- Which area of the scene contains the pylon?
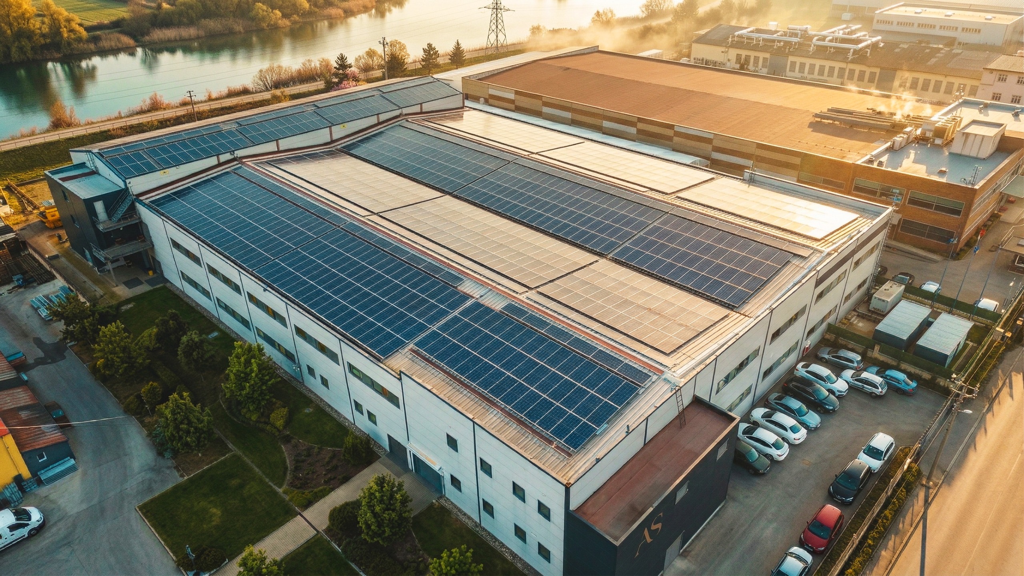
top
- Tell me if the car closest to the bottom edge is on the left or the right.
right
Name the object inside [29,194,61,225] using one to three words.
truck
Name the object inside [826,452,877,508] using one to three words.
car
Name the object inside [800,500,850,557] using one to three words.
car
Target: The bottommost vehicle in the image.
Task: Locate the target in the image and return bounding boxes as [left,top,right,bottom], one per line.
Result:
[770,546,821,576]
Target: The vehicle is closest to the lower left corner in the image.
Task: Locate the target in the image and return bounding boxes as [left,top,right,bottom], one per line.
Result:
[0,510,52,551]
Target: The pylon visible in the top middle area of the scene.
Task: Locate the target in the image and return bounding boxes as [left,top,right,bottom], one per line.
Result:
[485,0,509,56]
